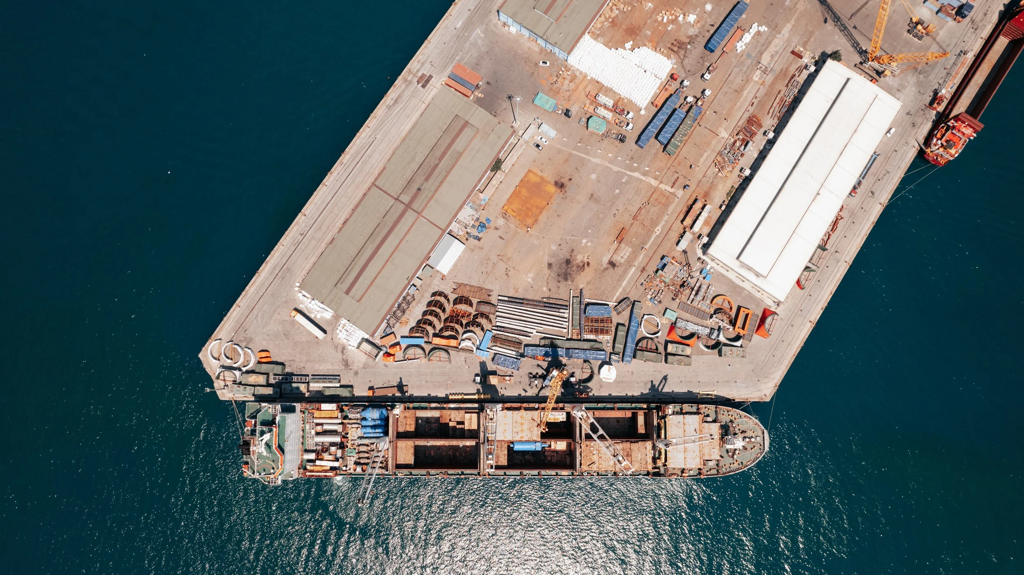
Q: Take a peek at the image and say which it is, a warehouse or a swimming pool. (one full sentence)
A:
It is a warehouse that can be seen here.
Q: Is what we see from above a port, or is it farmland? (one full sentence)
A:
What you see here is a port.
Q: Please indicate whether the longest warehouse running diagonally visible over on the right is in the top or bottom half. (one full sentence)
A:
The longest warehouse running diagonally visible over on the right sits in the top half of the picture.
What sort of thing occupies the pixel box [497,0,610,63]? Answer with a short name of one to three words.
building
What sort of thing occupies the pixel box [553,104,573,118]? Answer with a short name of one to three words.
vehicle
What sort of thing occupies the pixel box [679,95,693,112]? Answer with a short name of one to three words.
vehicle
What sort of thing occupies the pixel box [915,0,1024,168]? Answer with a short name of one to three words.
ship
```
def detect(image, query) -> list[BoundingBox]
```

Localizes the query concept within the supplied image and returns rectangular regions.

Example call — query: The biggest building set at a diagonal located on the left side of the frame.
[299,85,516,338]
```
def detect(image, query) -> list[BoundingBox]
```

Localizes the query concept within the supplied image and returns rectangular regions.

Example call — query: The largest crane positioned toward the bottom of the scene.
[528,362,575,433]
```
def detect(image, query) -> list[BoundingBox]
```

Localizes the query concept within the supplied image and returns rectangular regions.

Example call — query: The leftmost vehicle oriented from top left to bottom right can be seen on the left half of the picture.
[290,310,326,339]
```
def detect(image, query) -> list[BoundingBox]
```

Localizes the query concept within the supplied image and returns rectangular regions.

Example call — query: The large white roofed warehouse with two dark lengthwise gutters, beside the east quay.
[695,59,902,309]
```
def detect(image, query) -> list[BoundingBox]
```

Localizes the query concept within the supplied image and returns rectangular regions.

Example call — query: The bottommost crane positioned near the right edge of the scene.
[924,50,974,111]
